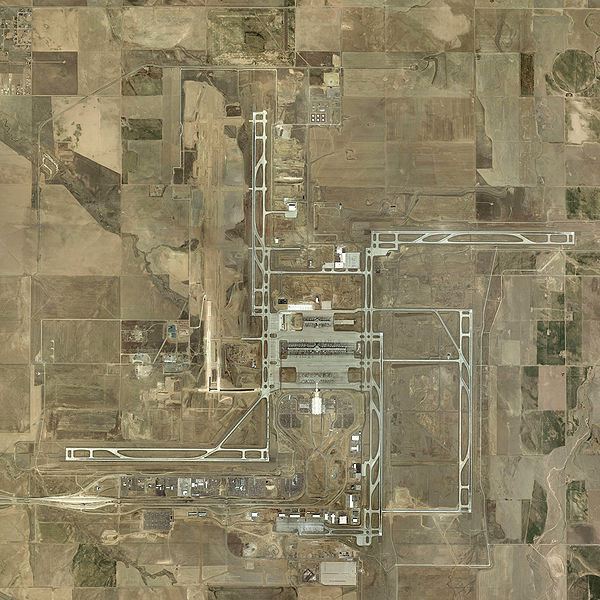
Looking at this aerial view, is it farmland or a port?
farmland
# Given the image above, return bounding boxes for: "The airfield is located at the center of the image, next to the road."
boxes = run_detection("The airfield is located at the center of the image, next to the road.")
[65,111,575,546]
